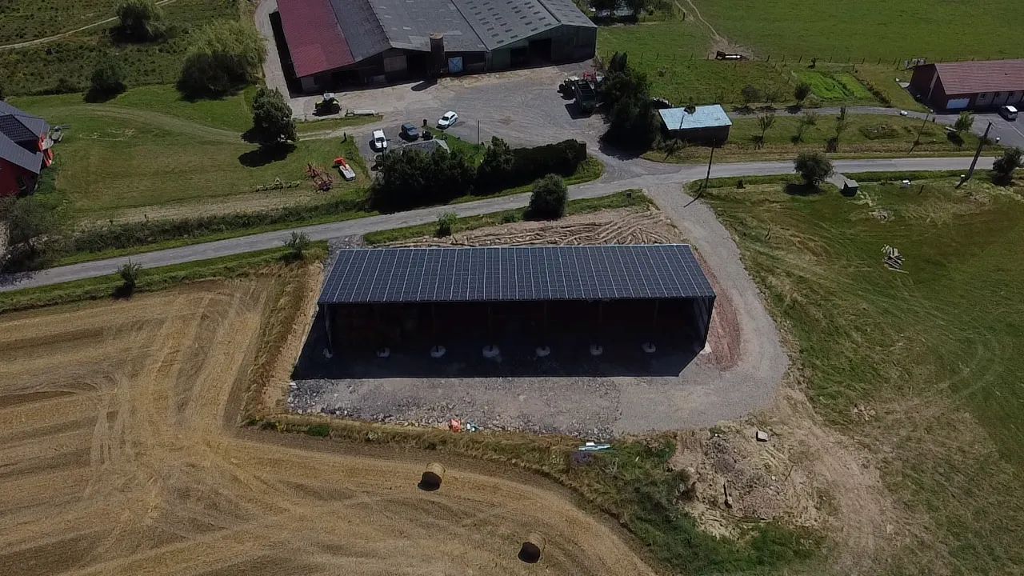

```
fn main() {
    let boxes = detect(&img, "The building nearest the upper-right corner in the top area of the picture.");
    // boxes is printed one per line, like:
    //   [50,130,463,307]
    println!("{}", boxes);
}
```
[902,62,1024,109]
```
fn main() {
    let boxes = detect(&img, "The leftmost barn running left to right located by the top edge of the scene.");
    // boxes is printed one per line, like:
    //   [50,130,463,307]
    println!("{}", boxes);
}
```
[273,0,491,93]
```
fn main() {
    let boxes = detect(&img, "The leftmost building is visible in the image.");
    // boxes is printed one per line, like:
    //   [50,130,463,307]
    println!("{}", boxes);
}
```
[0,101,56,193]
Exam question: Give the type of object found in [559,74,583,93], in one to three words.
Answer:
work vehicle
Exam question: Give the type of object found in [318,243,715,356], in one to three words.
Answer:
shed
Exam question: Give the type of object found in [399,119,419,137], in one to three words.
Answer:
car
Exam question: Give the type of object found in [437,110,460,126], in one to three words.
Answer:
car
